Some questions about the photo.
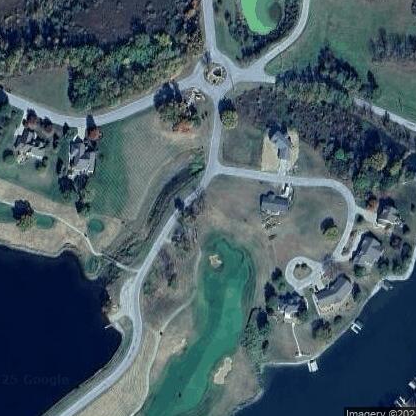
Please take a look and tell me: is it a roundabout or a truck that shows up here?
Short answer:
roundabout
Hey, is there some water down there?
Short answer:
Yes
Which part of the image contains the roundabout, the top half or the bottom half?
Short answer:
top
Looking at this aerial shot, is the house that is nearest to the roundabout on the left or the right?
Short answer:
right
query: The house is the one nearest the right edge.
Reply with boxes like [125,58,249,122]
[378,205,404,234]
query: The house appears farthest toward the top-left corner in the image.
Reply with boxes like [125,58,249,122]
[17,127,46,159]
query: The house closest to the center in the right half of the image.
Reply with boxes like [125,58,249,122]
[261,193,290,228]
